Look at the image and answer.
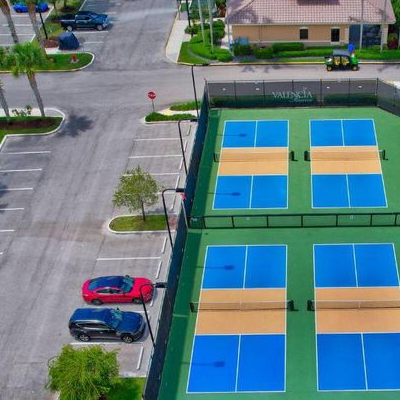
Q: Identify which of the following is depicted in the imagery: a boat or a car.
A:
car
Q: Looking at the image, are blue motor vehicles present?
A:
Yes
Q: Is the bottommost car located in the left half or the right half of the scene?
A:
left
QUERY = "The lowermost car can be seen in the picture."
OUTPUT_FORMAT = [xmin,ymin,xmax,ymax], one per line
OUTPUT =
[66,307,145,344]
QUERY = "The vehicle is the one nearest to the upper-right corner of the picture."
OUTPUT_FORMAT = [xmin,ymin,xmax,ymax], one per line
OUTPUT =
[326,47,360,71]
